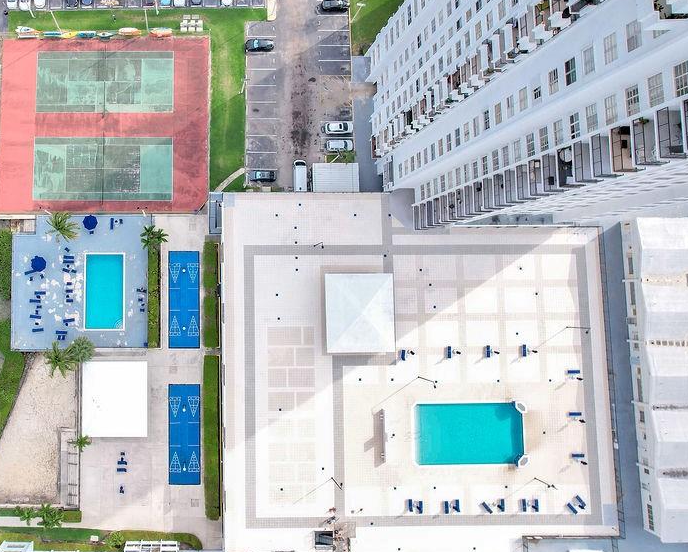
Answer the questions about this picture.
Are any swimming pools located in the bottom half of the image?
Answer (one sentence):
Yes, I can see a swimming pool in the bottom half of the image.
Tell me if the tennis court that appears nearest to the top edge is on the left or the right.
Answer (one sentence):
It is on the left.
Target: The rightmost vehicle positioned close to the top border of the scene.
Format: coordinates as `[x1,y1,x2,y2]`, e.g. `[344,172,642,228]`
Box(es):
[321,0,349,12]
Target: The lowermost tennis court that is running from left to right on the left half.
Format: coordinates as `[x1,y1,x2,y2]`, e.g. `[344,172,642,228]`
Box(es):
[0,126,209,213]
